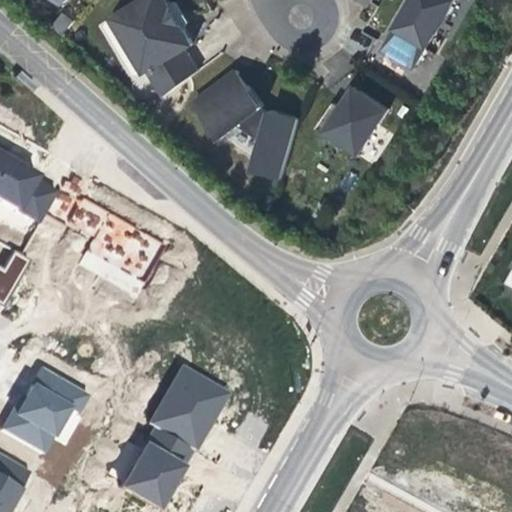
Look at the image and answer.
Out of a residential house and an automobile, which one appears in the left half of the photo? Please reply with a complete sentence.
What appears in the left half of the photo is a residential house.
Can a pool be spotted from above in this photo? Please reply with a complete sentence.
Yes, the picture does show a pool.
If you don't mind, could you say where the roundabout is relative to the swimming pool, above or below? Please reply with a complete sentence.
Looking at the scene, the roundabout is located below the swimming pool.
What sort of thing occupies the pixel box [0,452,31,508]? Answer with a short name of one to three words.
house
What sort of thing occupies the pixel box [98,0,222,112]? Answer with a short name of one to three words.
house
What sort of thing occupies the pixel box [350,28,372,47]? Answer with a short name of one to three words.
car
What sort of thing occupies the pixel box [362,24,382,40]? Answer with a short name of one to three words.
car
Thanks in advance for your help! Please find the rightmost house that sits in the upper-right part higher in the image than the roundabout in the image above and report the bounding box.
[388,0,451,62]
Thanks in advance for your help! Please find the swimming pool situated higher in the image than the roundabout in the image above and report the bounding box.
[380,35,418,76]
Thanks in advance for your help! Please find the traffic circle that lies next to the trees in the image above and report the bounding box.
[320,254,450,384]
